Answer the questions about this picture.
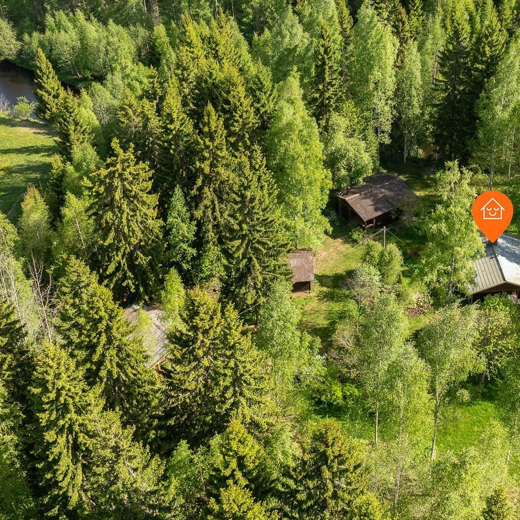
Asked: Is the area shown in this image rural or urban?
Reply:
rural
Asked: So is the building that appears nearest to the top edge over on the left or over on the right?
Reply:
right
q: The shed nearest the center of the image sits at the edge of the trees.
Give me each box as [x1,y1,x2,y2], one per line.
[289,253,318,300]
